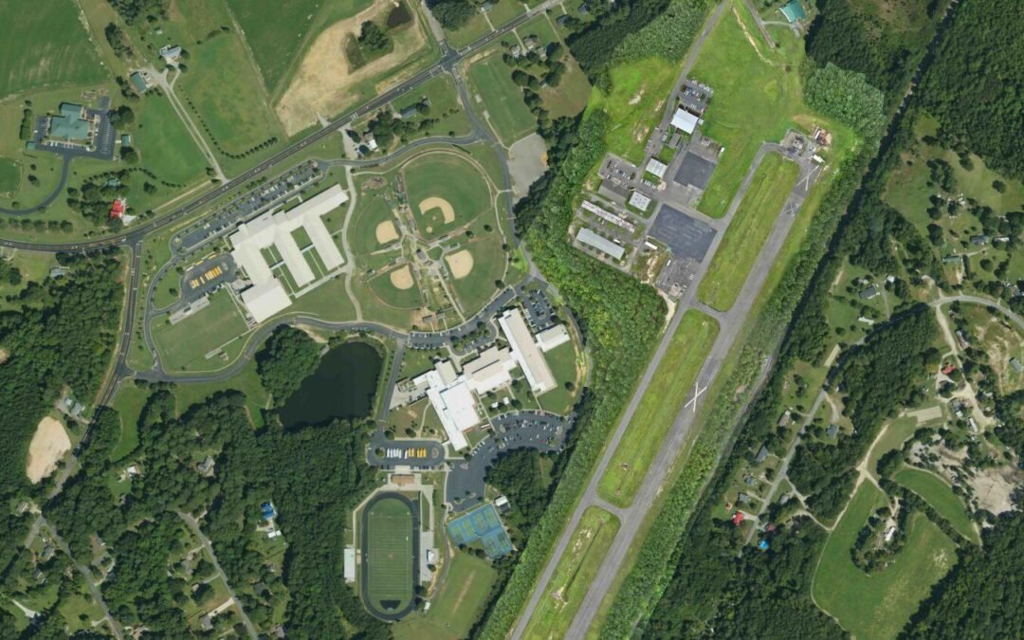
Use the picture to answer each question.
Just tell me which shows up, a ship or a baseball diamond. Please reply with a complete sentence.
This aerial view contains a baseball diamond.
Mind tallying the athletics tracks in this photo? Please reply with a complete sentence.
My tally gives 1 athletics track in this photo.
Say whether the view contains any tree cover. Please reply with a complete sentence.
Yes, there's tree cover in this view.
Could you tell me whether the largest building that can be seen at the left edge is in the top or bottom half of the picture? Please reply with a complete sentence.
It is in the top half that the largest building that can be seen at the left edge appears.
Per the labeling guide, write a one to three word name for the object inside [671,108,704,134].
hangar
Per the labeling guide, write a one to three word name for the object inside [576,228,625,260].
hangar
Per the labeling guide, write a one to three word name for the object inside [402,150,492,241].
baseball field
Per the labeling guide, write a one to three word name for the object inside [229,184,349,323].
building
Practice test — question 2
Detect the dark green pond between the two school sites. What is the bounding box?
[279,341,383,424]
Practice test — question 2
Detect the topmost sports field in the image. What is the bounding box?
[475,47,526,145]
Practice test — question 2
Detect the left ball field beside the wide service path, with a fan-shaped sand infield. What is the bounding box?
[351,196,402,254]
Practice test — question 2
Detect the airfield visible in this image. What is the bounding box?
[508,129,826,640]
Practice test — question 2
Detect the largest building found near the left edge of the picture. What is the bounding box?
[50,103,100,140]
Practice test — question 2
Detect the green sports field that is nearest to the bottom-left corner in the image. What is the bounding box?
[368,498,413,614]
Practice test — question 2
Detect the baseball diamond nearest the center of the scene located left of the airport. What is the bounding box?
[440,237,506,313]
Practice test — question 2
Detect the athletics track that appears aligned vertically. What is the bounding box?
[361,491,420,621]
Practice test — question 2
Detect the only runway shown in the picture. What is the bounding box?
[563,138,825,640]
